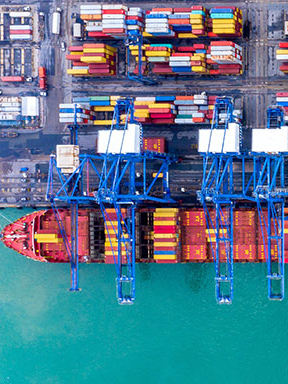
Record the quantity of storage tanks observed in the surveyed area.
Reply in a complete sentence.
Not a single storage tank can be seen.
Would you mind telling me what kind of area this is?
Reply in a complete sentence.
The picture captures a port.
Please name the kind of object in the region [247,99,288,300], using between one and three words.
container crane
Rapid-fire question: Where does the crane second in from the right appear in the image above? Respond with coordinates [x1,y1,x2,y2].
[193,88,267,303]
